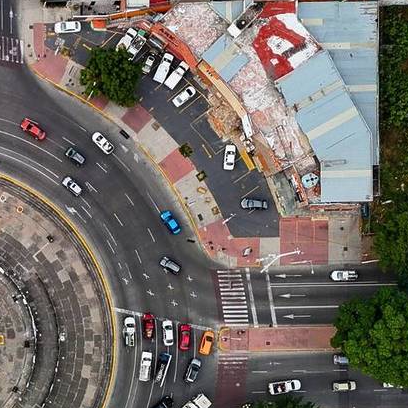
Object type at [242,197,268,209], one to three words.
vehicle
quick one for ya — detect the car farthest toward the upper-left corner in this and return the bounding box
[55,19,81,32]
